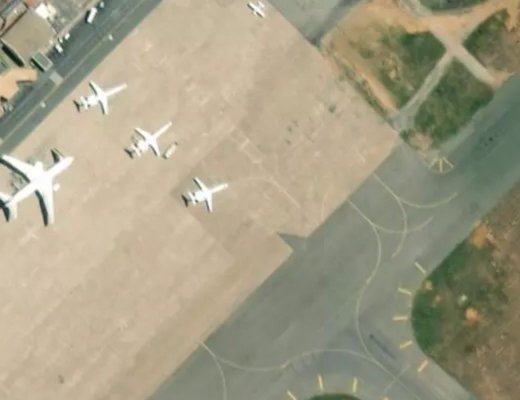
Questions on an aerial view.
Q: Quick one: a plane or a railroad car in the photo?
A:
plane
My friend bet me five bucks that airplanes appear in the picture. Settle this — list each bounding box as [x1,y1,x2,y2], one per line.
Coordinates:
[80,82,126,114]
[0,156,74,226]
[130,122,171,158]
[186,178,228,211]
[248,0,265,17]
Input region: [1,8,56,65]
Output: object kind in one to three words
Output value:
building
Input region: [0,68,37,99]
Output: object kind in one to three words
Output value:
building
